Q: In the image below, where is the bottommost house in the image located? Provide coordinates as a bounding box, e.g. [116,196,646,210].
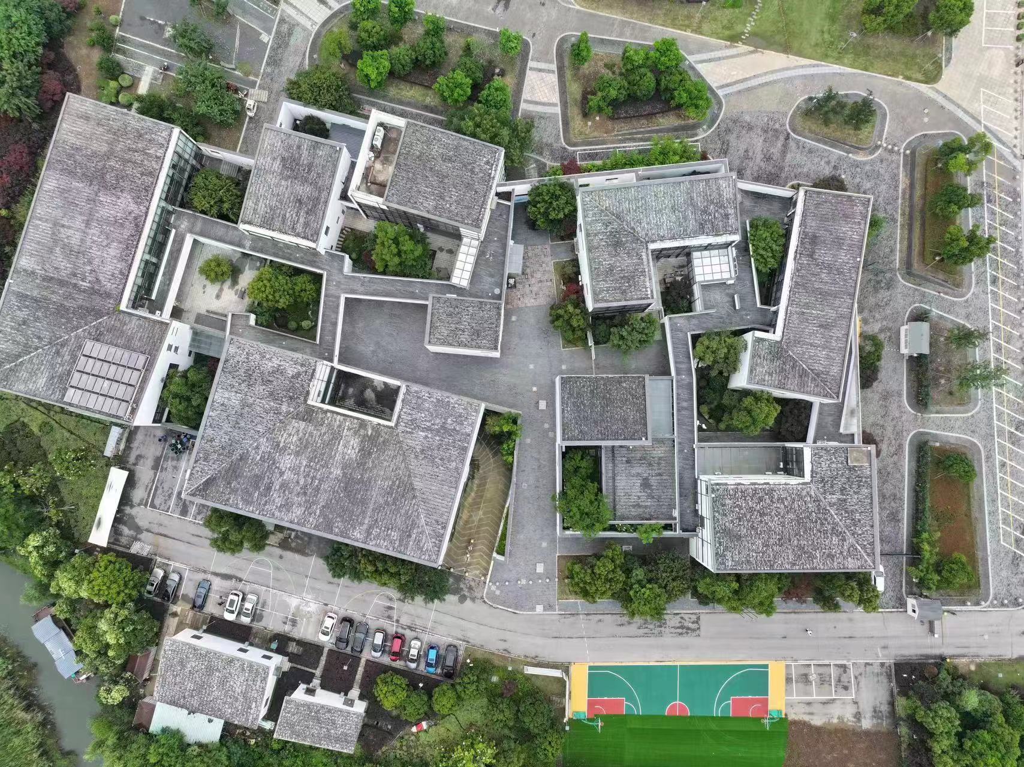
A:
[274,684,371,754]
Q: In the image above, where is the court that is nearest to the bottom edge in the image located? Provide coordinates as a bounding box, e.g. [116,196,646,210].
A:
[588,665,769,716]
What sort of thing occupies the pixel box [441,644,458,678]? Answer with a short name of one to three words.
car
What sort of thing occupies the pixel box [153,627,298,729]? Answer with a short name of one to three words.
house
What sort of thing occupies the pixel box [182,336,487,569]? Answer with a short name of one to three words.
building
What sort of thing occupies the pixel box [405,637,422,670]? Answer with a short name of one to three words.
car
